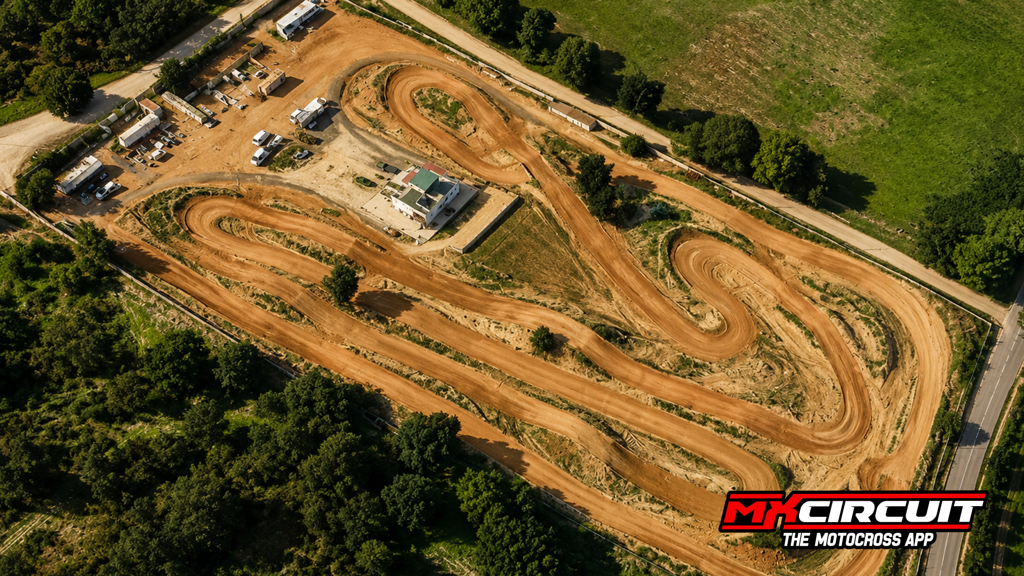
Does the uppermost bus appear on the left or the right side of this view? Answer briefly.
left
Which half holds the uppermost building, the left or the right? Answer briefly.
left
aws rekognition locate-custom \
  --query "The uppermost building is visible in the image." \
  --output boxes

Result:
[255,68,285,95]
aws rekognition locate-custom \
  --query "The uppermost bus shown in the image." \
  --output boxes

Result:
[271,0,326,37]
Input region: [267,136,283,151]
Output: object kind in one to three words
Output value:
camper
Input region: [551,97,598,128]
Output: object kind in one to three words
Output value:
shed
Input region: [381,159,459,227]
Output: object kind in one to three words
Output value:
building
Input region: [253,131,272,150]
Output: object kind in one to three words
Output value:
vehicle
